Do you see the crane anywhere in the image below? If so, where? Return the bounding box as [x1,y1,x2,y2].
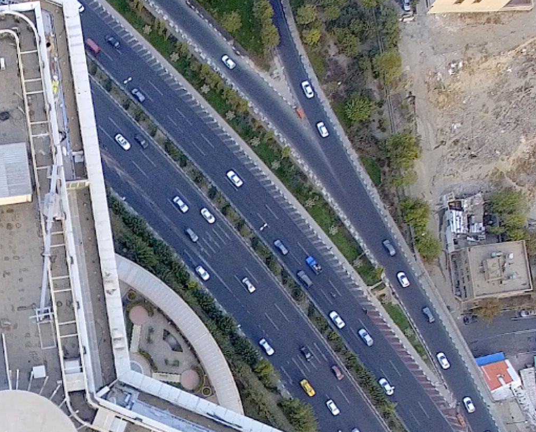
[35,153,59,323]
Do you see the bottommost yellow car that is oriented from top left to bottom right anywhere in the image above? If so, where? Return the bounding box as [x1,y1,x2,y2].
[299,378,316,397]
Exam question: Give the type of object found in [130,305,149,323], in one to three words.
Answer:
umbrella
